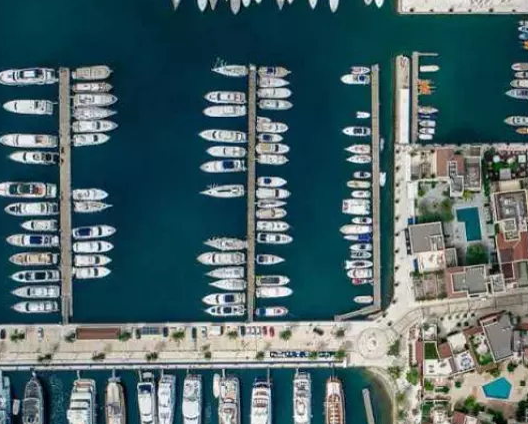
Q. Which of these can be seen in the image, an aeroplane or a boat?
boat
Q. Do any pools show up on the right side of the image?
Yes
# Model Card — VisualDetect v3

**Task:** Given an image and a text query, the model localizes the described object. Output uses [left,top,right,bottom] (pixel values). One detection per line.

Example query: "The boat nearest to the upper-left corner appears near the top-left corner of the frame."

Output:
[0,66,58,84]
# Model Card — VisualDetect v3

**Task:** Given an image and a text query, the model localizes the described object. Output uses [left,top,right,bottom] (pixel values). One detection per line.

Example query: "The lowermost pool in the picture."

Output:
[481,375,514,401]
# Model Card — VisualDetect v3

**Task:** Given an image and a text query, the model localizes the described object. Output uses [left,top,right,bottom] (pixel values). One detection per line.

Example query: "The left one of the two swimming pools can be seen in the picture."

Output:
[455,205,484,243]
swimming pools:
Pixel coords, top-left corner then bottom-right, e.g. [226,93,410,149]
[455,205,484,243]
[481,375,514,401]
